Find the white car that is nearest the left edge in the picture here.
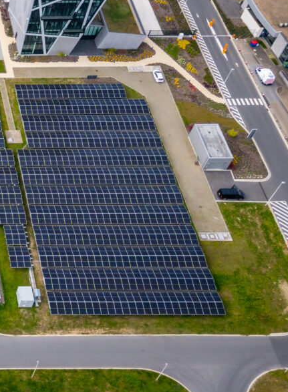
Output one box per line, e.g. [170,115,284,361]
[150,69,166,84]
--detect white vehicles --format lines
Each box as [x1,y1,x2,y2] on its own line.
[150,69,166,84]
[254,67,278,87]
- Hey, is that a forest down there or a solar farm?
solar farm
